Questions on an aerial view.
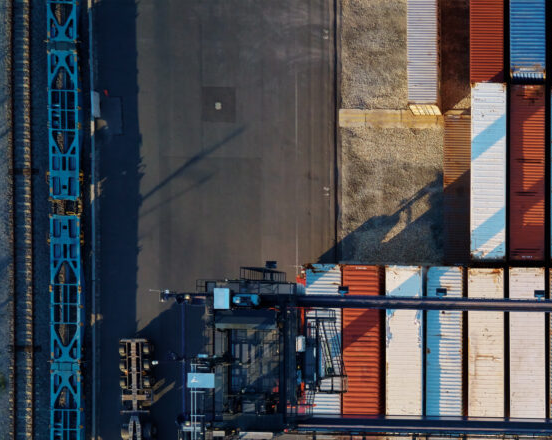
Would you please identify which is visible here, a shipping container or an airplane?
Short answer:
shipping container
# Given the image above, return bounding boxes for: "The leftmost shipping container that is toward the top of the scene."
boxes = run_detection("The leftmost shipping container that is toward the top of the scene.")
[407,0,444,114]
